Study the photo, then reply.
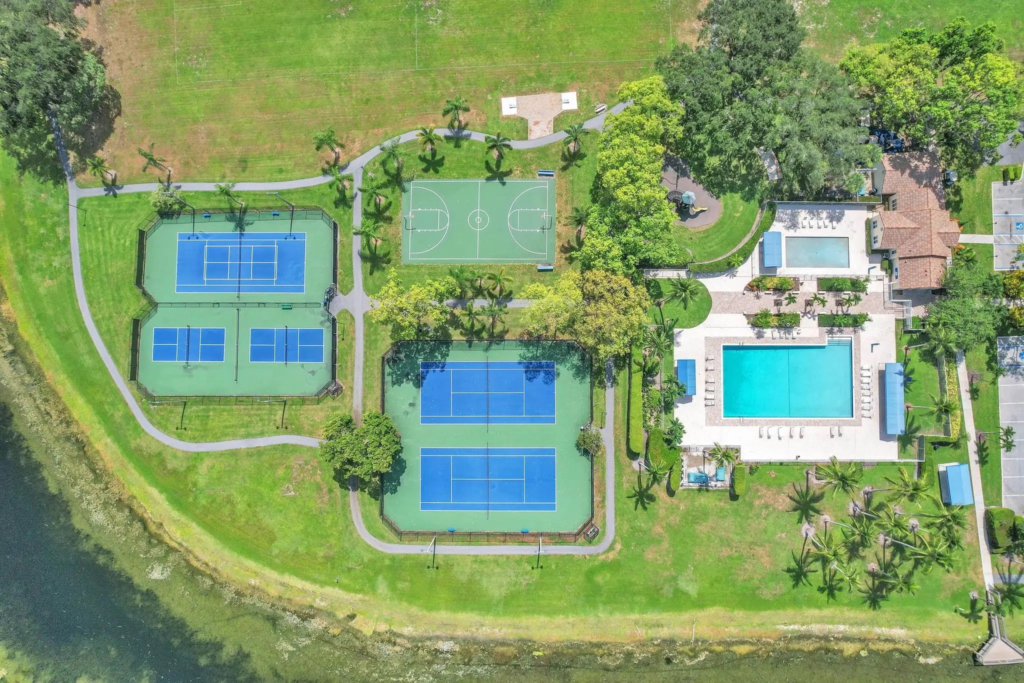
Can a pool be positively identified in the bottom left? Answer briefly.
No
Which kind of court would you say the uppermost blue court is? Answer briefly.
tennis court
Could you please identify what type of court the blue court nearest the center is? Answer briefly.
tennis court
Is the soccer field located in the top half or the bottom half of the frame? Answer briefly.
top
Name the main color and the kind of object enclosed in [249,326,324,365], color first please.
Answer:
blue sports court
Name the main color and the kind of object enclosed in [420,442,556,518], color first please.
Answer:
blue tennis court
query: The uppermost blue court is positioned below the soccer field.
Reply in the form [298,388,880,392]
[176,226,306,298]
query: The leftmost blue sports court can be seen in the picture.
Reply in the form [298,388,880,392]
[152,325,225,364]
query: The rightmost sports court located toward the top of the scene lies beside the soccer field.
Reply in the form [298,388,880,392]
[502,92,578,141]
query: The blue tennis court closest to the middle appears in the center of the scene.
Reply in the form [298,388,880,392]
[420,356,556,430]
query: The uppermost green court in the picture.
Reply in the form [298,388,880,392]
[402,179,556,265]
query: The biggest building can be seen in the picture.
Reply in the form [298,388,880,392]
[873,152,963,290]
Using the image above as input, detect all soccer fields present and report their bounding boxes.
[170,0,673,84]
